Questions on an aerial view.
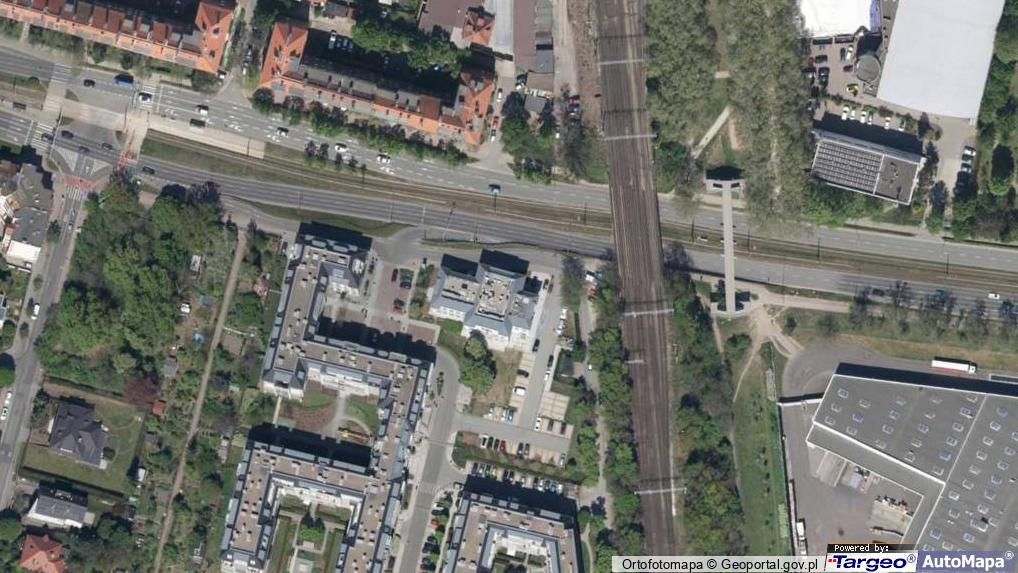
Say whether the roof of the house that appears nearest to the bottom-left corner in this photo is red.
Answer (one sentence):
Yes, the roof of the house that appears nearest to the bottom-left corner is red.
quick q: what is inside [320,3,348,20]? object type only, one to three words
building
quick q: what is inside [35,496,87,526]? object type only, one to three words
house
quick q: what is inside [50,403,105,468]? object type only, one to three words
house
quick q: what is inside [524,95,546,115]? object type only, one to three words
shed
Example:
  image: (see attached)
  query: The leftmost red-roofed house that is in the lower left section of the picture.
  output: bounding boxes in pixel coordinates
[20,534,66,573]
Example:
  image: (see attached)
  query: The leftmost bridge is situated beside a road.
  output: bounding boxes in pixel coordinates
[608,178,663,273]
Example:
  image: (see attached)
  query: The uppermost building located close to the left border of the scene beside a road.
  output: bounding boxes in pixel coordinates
[0,0,237,86]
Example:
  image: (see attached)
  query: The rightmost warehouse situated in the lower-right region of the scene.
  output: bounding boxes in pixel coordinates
[806,374,1018,573]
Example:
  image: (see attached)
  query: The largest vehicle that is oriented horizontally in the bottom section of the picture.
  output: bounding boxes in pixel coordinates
[932,357,977,374]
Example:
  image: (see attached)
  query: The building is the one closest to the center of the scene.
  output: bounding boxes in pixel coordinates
[430,263,539,346]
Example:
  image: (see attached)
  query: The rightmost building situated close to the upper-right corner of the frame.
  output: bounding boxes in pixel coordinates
[876,0,1001,127]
